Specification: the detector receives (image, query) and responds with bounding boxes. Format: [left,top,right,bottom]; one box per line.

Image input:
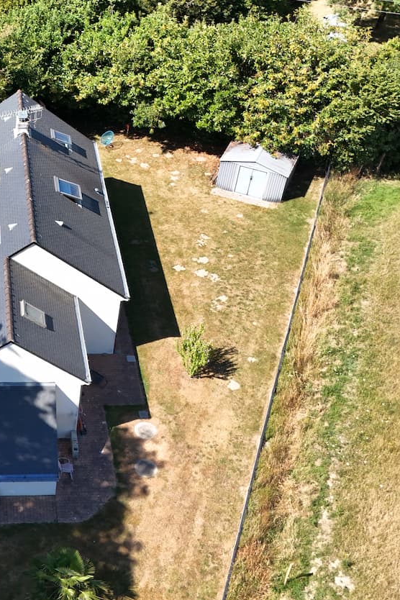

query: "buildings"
[211,135,297,208]
[0,91,134,494]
